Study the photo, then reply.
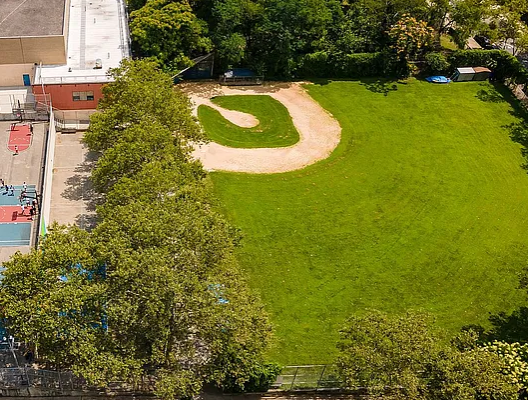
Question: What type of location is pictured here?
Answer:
sports ground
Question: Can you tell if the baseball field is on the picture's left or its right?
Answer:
right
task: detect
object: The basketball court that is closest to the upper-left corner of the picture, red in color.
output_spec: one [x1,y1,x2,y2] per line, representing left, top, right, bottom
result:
[6,124,32,153]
